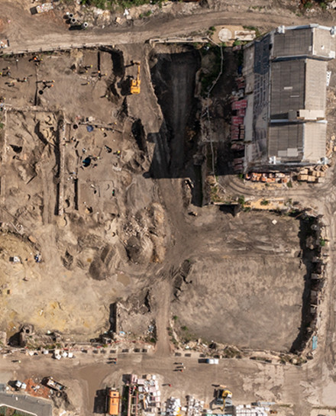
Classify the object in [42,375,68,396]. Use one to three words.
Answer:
vehicle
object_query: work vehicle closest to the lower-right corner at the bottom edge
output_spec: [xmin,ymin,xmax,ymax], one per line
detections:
[213,387,231,414]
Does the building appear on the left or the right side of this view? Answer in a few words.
right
